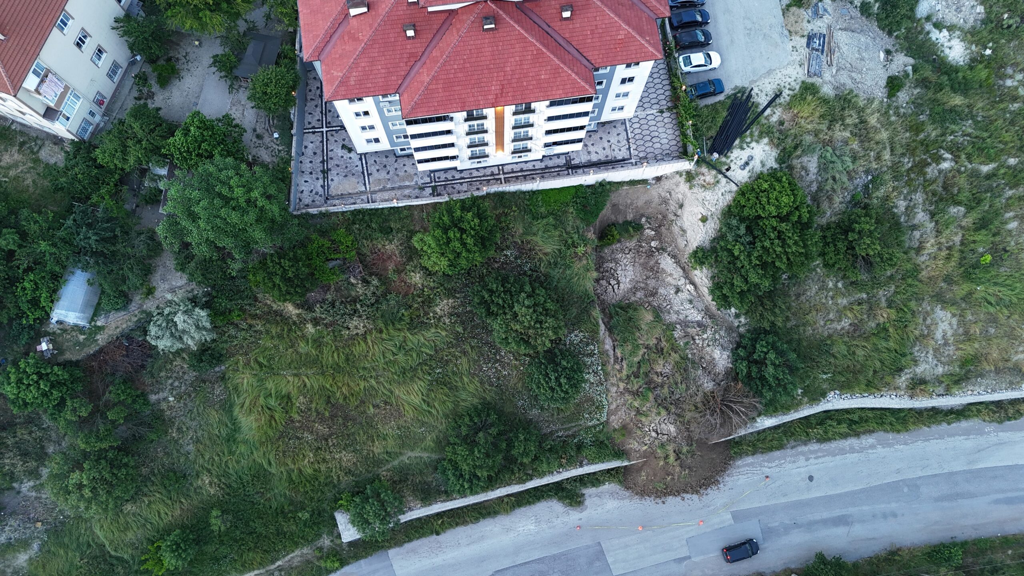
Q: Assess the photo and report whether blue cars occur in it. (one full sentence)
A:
Yes, you can see a blue car in this photo.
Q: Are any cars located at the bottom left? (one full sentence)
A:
No, no car is visible at the bottom left.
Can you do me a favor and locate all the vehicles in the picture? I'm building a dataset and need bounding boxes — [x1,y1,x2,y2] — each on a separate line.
[677,51,721,75]
[720,539,758,564]
[667,0,707,13]
[673,29,712,51]
[669,8,710,31]
[686,78,725,100]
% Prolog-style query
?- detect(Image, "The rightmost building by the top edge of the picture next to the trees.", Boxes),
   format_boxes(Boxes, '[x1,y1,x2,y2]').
[298,0,671,181]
